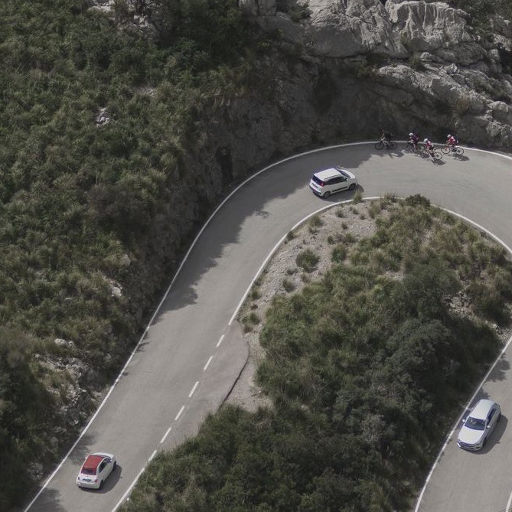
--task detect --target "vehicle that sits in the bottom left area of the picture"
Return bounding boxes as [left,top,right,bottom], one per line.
[80,451,120,489]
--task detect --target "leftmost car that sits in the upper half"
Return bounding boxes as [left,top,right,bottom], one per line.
[311,167,356,196]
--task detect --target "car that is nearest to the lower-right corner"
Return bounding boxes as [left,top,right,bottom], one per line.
[457,401,501,452]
